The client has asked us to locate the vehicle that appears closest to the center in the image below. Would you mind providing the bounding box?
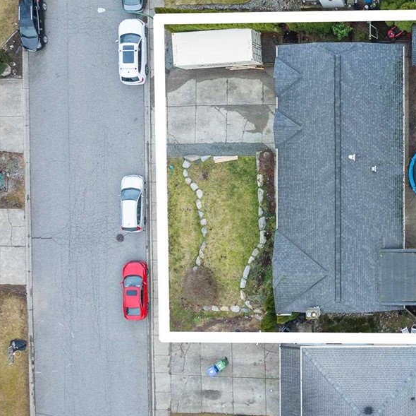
[117,175,148,232]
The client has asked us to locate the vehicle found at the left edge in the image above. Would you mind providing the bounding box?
[15,0,50,53]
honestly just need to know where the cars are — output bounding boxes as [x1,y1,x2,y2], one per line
[15,0,50,53]
[116,21,149,85]
[117,175,148,232]
[121,0,149,14]
[120,262,151,319]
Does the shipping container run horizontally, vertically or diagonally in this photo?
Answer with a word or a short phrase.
horizontally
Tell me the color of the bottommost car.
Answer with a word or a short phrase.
red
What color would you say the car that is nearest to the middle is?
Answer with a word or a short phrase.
white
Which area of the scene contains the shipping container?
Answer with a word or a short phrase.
top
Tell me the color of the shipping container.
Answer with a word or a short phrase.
white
